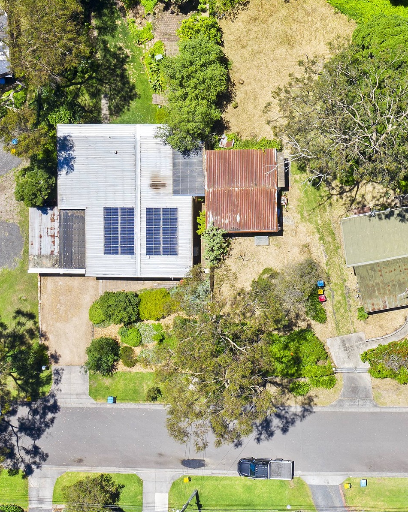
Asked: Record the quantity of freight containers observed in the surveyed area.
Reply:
0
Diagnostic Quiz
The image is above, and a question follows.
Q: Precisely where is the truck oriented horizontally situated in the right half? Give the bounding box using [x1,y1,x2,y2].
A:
[234,456,293,481]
